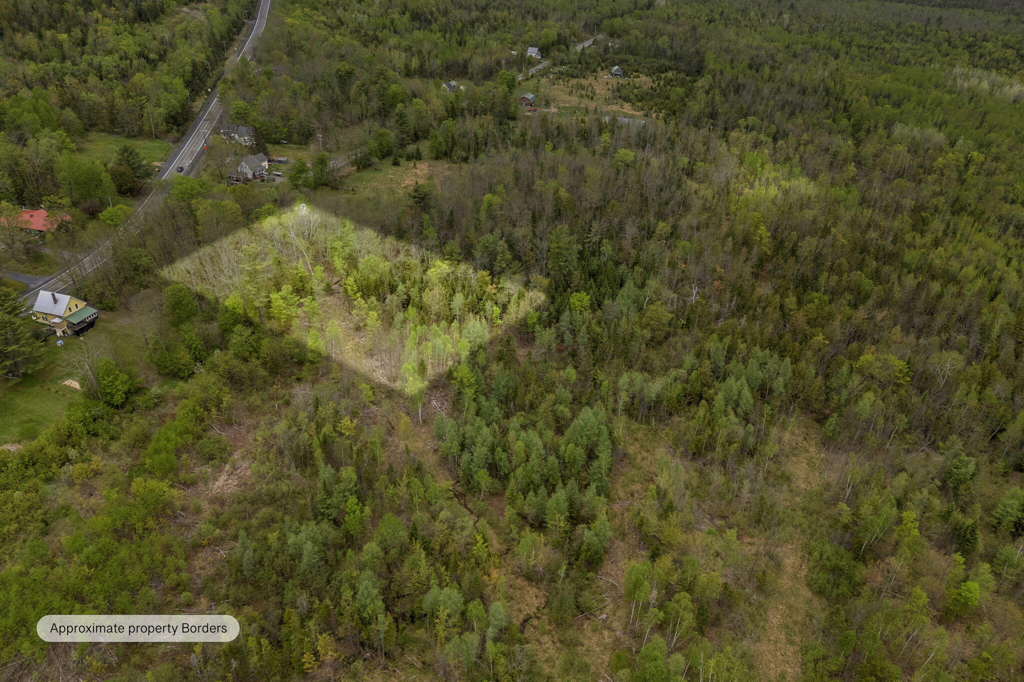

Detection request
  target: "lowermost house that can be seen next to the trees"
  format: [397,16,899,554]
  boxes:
[32,288,103,336]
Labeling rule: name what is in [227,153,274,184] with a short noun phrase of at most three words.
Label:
house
